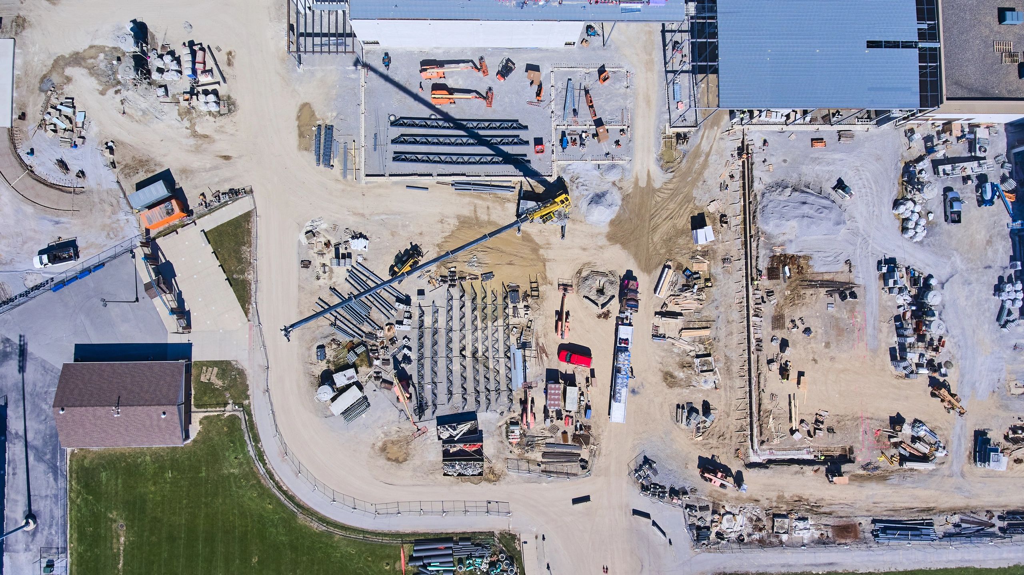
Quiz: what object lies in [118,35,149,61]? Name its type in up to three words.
silo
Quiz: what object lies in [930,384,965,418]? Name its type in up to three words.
work vehicle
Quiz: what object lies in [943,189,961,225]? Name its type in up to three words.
vehicle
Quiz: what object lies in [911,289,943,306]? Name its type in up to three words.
silo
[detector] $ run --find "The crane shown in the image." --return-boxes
[273,186,579,346]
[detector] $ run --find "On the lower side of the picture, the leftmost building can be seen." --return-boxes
[51,362,193,448]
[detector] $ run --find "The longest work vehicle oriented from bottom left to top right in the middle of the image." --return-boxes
[390,245,427,276]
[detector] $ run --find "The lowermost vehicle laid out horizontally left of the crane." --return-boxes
[36,247,80,265]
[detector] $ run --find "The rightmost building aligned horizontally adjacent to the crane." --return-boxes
[668,0,939,128]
